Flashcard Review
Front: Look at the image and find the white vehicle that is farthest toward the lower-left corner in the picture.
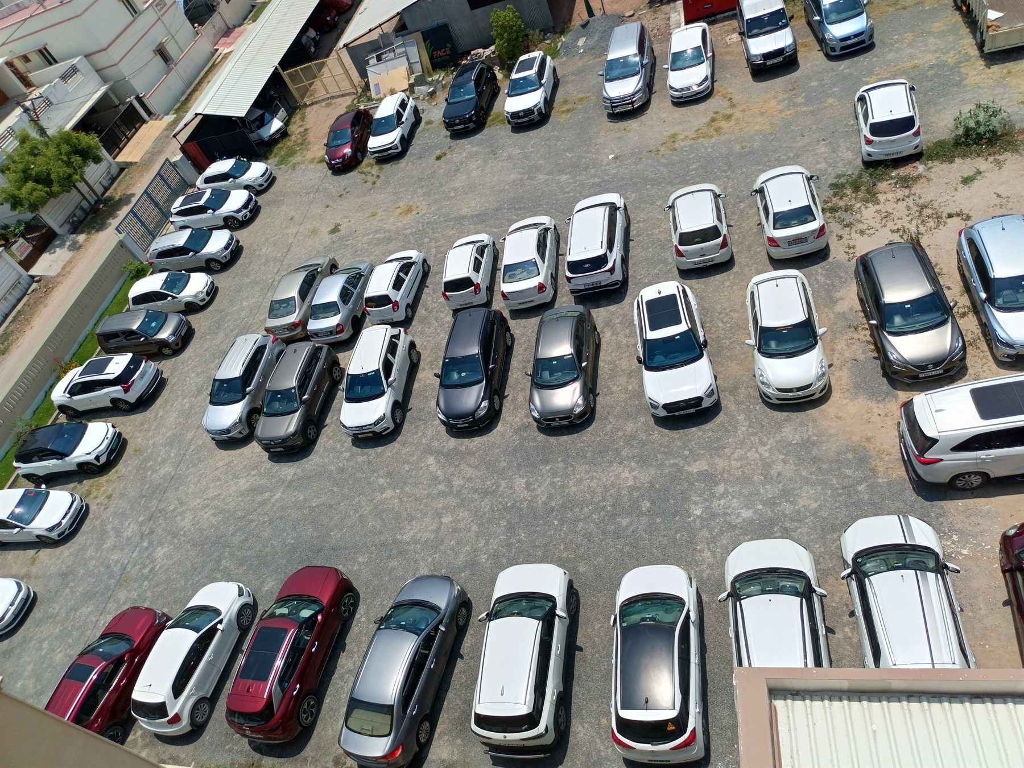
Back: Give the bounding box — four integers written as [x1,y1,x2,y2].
[0,576,36,637]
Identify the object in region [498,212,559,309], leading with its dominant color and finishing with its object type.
white car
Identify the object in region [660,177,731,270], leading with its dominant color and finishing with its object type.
white car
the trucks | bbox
[679,0,733,29]
[957,0,1024,52]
